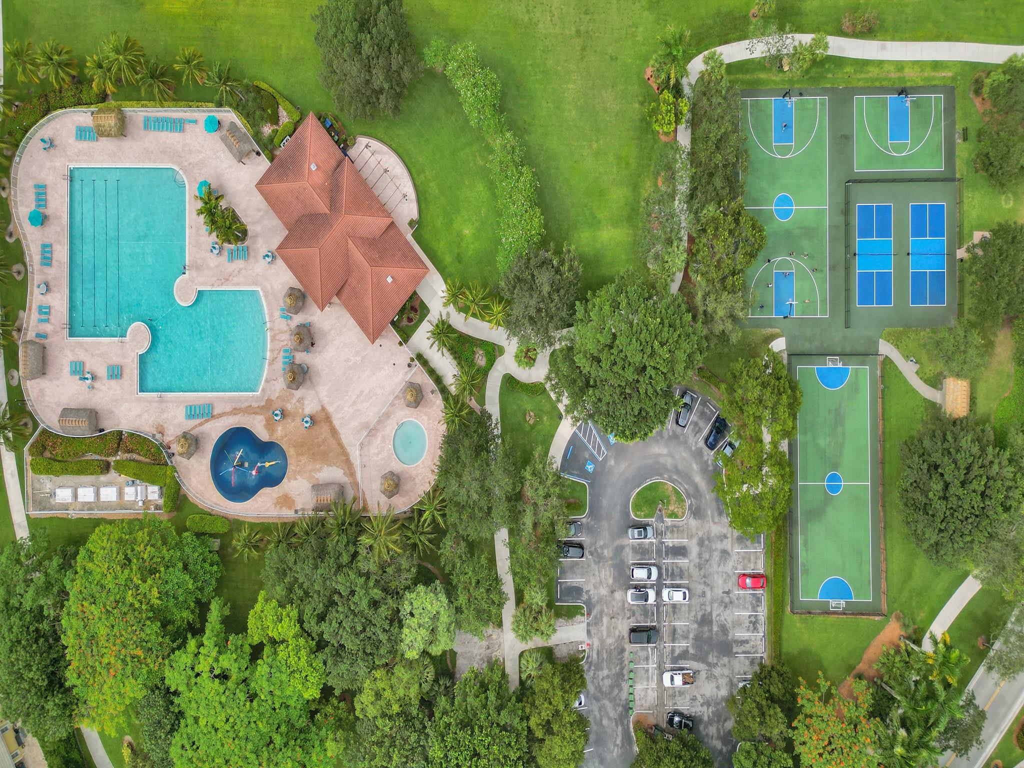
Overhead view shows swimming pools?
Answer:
Yes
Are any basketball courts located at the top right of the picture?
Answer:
Yes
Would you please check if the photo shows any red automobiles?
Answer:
Yes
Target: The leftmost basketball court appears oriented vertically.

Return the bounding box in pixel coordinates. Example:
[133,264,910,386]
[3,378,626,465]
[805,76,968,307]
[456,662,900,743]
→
[740,97,829,317]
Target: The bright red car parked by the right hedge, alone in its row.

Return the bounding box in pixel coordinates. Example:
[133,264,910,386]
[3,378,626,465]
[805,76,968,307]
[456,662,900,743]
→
[737,573,766,590]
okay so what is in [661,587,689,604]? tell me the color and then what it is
white car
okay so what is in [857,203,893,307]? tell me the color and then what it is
blue sports court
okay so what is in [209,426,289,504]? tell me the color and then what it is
blue swimming pool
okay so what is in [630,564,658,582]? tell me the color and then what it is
white car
